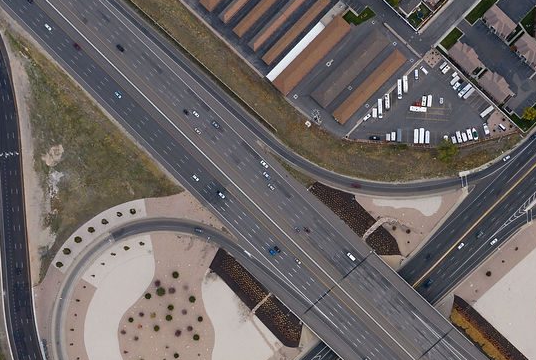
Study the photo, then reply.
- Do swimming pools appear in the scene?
No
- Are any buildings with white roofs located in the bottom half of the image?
No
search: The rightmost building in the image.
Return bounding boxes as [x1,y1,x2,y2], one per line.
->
[515,34,536,70]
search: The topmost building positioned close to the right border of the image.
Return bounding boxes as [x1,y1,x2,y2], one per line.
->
[483,5,517,41]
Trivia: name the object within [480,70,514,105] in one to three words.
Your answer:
building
